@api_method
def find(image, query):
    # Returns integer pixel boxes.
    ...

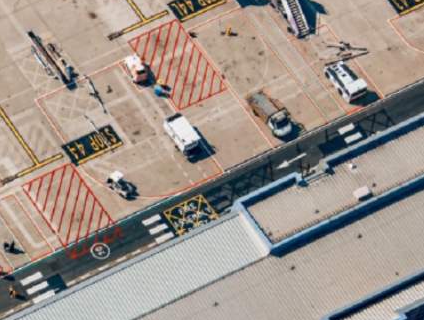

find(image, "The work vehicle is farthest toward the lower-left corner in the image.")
[107,170,135,197]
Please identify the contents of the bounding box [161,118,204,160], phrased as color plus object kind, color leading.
white van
